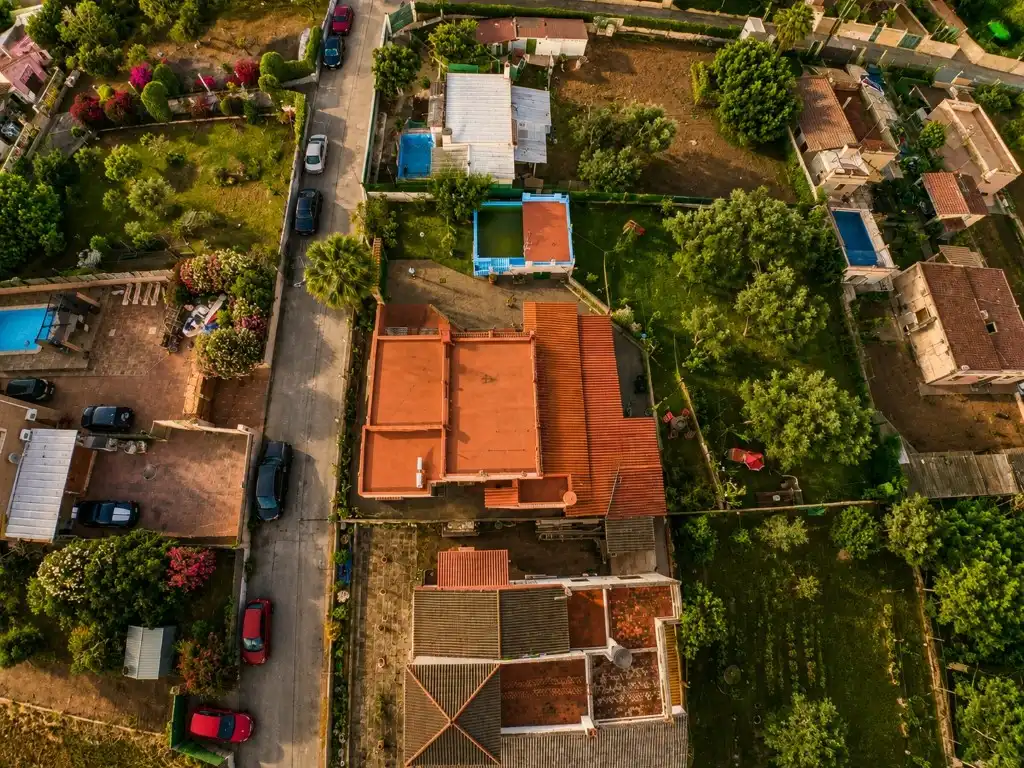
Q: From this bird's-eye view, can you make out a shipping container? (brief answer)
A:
No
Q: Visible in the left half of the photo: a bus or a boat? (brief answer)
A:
boat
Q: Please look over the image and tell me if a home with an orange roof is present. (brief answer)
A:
Yes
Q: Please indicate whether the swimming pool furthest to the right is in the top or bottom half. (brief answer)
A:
top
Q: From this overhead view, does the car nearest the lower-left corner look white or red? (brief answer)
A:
red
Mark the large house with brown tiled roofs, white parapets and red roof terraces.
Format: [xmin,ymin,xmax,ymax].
[404,571,695,768]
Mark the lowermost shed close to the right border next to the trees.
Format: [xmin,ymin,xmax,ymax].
[885,448,1024,499]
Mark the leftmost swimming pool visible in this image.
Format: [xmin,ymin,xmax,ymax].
[0,286,111,381]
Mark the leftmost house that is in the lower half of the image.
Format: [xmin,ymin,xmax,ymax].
[0,394,108,548]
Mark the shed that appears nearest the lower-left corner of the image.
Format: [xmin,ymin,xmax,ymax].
[124,624,181,679]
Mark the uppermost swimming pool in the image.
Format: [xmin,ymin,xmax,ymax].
[396,132,434,187]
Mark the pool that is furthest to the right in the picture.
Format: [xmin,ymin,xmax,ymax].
[823,205,897,294]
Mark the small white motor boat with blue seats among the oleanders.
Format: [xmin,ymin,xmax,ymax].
[183,301,212,334]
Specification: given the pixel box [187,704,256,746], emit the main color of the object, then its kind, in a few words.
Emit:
red car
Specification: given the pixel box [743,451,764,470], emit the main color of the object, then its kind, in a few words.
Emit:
red umbrella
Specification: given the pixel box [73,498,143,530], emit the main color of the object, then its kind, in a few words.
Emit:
black car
